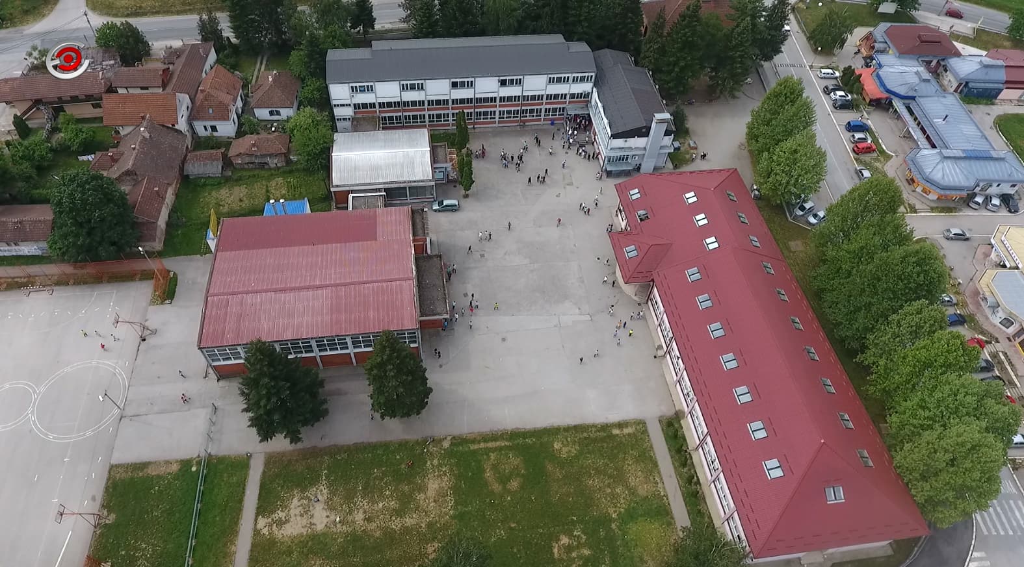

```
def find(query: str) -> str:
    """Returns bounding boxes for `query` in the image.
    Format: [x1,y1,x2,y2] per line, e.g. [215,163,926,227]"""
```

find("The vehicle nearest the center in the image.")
[431,197,460,212]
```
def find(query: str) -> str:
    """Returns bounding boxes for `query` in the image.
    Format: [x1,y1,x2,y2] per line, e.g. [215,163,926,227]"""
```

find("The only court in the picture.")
[0,280,156,567]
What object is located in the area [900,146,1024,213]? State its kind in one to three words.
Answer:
building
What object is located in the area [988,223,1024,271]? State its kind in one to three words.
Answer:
building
